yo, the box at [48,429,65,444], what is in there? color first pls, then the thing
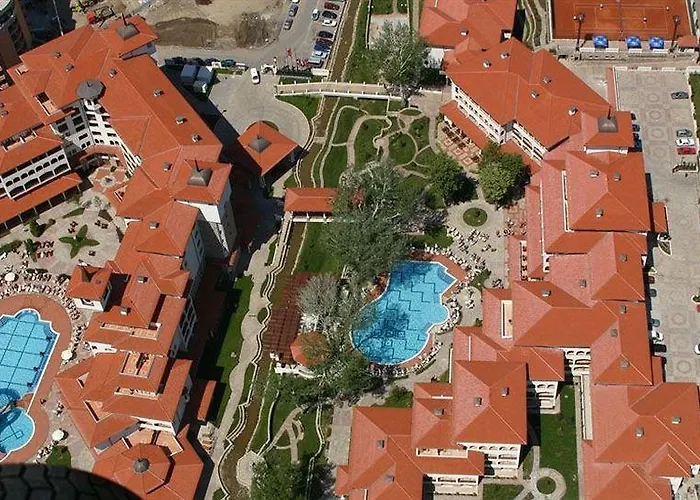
white umbrella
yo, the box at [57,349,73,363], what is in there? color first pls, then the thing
white umbrella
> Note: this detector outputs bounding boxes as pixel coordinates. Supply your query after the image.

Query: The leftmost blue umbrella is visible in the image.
[593,36,610,49]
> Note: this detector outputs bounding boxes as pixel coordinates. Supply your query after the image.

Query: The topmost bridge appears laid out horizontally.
[273,80,404,104]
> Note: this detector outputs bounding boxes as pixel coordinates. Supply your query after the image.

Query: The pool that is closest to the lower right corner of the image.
[349,260,458,365]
